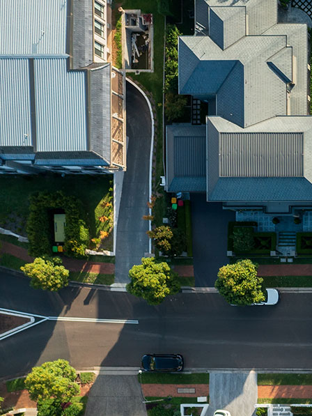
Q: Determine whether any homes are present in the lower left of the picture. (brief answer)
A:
No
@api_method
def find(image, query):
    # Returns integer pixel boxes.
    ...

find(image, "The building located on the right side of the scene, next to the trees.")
[164,0,312,247]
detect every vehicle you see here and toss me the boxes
[248,287,280,306]
[141,354,186,371]
[213,408,232,416]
